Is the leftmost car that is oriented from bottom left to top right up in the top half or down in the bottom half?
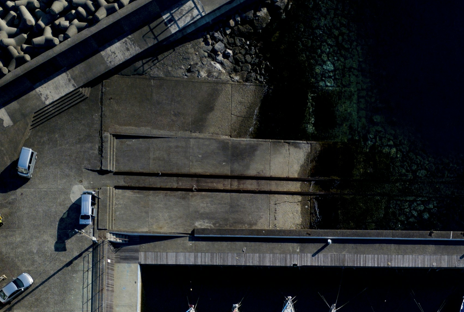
bottom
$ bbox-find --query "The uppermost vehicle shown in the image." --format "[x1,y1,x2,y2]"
[16,144,37,177]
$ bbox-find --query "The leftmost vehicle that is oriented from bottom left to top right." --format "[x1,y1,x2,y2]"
[0,272,36,305]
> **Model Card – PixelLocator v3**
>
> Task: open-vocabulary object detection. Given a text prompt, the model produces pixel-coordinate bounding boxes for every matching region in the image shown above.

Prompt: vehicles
[0,272,36,305]
[76,190,100,225]
[16,144,37,177]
